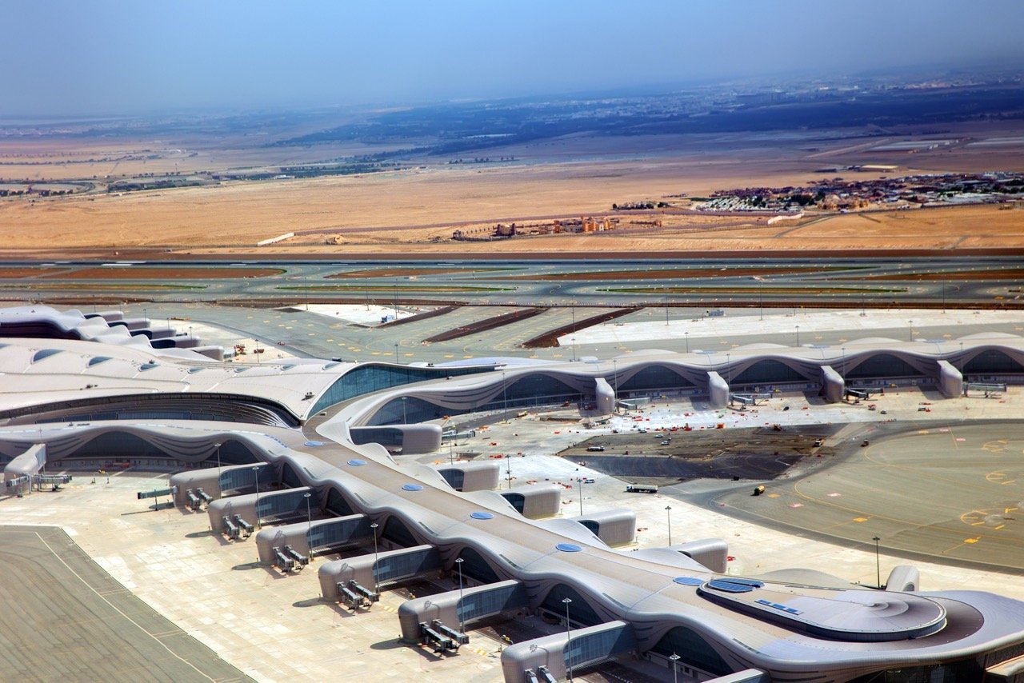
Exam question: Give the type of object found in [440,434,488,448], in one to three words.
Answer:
jet bridge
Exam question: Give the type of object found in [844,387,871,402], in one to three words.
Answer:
jet bridge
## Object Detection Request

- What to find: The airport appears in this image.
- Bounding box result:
[0,247,1024,683]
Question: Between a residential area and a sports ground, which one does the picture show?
residential area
